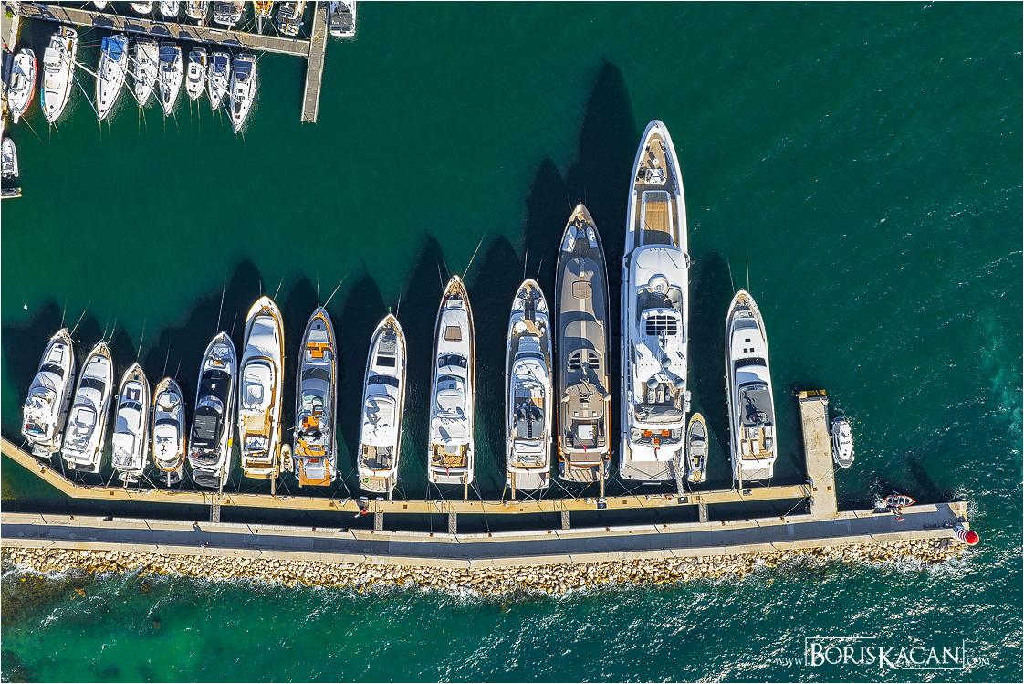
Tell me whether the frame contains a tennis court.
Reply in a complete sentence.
No, no tennis court is visible in the view.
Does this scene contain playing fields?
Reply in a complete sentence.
No, this view has no playing field in it.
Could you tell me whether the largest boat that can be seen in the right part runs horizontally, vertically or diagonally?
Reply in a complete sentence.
In this picture, the largest boat that can be seen in the right part is oriented vertically.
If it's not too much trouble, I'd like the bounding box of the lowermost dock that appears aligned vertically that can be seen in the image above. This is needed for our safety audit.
[797,389,837,518]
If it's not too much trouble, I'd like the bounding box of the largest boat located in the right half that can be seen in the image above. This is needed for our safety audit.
[616,120,694,494]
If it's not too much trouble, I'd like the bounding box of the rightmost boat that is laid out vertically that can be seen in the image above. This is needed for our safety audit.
[829,416,855,468]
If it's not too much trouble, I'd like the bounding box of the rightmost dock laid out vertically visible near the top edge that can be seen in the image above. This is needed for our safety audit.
[302,0,329,123]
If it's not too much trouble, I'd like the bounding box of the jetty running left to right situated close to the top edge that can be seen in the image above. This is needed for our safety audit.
[22,3,310,58]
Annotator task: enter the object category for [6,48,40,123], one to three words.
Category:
boat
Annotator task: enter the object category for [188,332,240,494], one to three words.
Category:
boat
